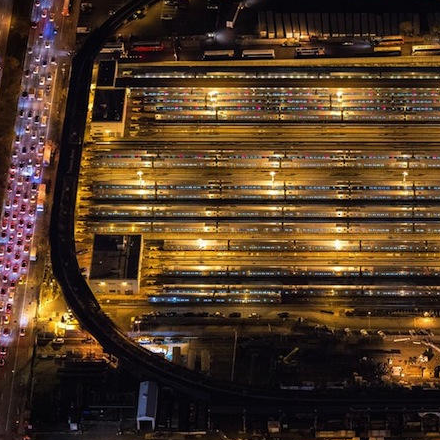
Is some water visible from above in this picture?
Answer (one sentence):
No, the picture contains no water.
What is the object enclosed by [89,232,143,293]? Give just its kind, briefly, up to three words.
building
